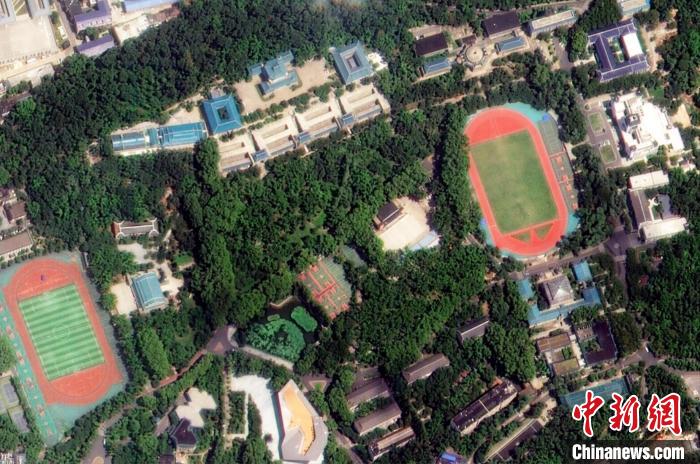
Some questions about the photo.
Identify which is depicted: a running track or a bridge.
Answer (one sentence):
Looking from above, you can make out a running track.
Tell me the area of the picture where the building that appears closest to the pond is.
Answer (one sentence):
The building that appears closest to the pond is located in the bottom region of the scene.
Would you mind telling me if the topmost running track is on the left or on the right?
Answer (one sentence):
The topmost running track appears in the right half of the scene.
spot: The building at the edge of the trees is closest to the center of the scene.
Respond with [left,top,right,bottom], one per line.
[377,203,402,227]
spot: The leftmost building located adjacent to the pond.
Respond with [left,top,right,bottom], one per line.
[278,379,329,464]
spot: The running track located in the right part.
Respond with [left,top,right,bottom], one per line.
[464,102,578,260]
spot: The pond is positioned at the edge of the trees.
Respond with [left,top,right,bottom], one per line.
[237,294,328,364]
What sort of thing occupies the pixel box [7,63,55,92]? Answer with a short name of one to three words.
building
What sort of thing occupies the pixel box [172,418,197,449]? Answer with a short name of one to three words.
house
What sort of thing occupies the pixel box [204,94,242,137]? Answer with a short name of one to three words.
building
